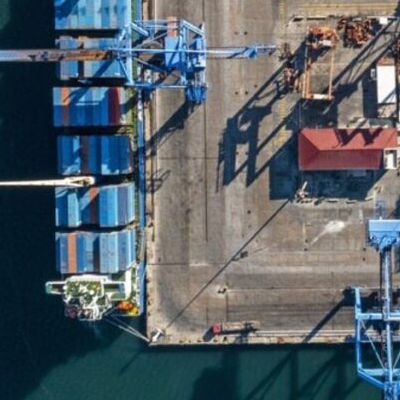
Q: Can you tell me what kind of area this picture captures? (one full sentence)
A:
This image shows a port.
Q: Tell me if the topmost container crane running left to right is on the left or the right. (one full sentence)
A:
You can find the topmost container crane running left to right on the left side of the picture.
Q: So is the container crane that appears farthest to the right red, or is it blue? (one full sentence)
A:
In this view, the container crane that appears farthest to the right is blue.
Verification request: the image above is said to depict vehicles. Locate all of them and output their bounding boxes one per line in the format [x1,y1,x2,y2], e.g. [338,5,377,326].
[371,68,376,80]
[212,321,259,334]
